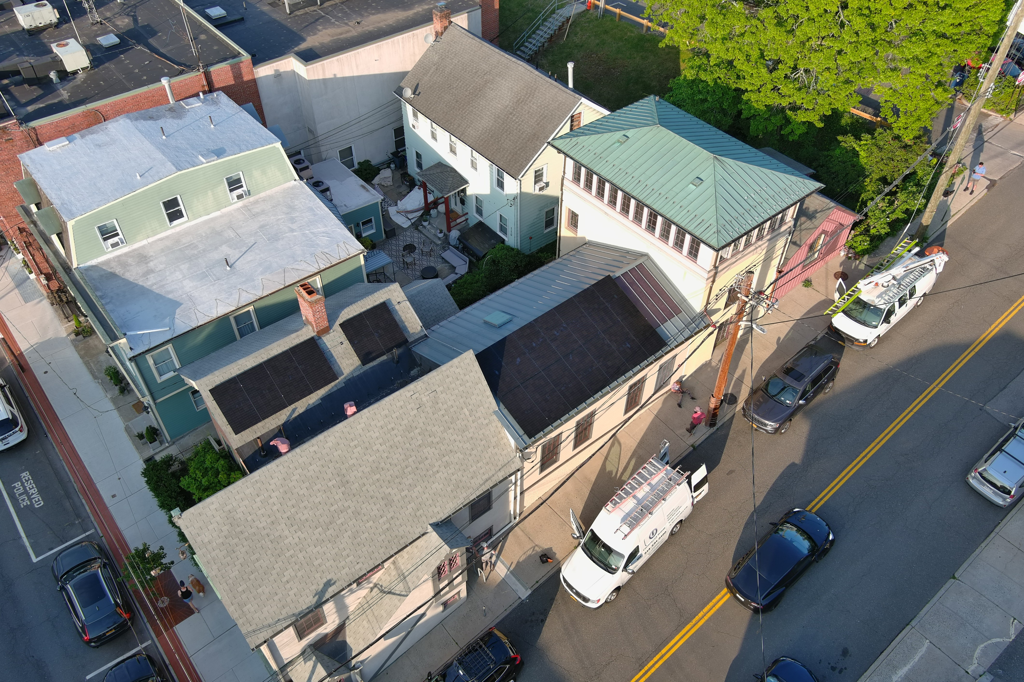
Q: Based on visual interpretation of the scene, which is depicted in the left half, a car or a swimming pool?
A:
car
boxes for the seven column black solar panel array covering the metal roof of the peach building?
[474,276,670,438]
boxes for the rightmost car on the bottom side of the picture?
[968,413,1024,507]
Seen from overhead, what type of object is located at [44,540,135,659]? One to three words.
car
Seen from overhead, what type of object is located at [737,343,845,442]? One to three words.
car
